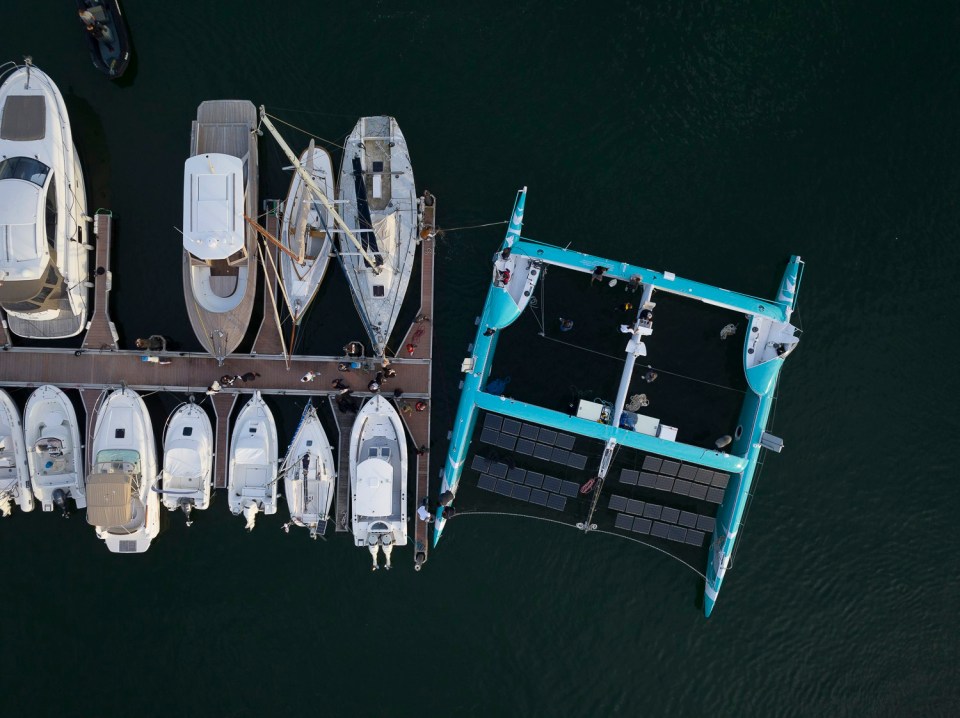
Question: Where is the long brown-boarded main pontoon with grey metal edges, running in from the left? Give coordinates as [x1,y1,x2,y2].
[0,346,432,398]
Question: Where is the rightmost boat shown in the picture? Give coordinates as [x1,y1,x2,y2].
[434,186,804,617]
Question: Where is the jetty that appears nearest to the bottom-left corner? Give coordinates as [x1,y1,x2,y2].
[79,389,110,478]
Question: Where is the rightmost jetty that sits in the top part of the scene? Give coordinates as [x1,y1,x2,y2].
[396,197,436,358]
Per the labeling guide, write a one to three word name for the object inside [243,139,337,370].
boat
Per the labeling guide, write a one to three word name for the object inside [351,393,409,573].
boat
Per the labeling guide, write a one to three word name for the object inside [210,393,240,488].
pier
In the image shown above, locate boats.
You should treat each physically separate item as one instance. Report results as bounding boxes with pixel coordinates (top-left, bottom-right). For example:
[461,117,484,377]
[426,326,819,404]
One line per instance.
[262,400,336,543]
[0,54,92,338]
[76,0,129,80]
[149,396,217,528]
[84,381,163,553]
[0,385,36,537]
[434,186,804,617]
[243,139,337,370]
[255,98,419,355]
[24,385,87,523]
[173,100,262,366]
[230,388,279,531]
[351,393,409,573]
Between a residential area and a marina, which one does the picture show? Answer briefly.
marina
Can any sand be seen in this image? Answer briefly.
No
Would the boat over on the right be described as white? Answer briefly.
No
